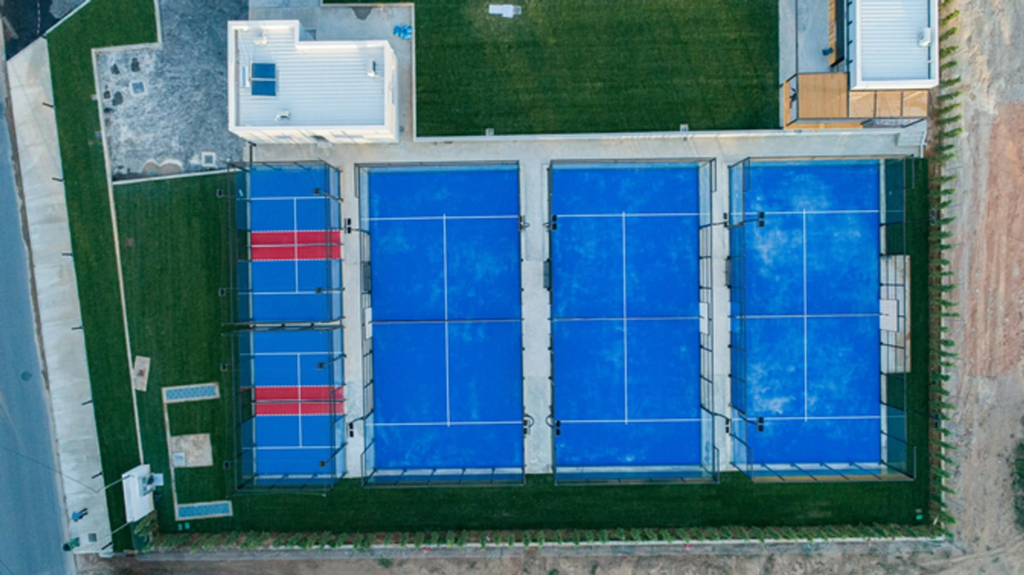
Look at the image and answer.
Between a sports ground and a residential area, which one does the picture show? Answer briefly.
sports ground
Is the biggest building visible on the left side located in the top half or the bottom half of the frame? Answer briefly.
top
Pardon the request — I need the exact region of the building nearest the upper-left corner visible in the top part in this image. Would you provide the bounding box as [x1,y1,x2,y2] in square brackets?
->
[224,20,398,149]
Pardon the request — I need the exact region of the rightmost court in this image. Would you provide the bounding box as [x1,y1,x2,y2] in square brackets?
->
[728,153,917,485]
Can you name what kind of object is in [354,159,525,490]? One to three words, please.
sports court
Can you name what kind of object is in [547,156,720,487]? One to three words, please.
sports court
